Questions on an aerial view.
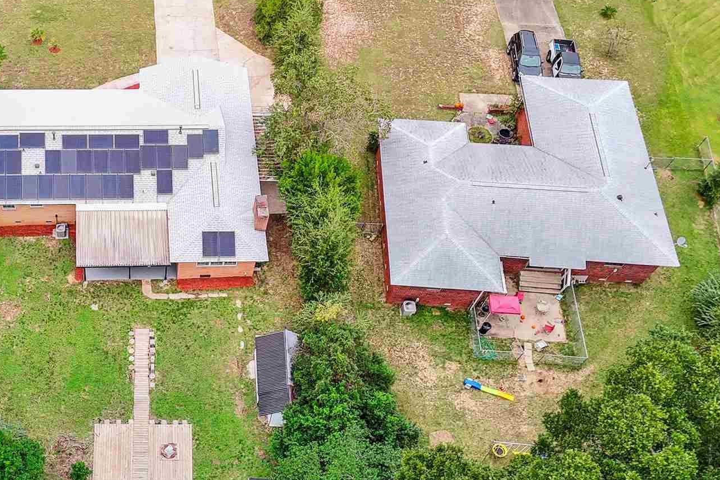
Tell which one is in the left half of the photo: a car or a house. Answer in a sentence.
You can see a house in the left half of the photo.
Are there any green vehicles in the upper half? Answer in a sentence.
No, there's no green vehicle to be seen in the upper half.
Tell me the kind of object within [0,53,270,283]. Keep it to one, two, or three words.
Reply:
house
